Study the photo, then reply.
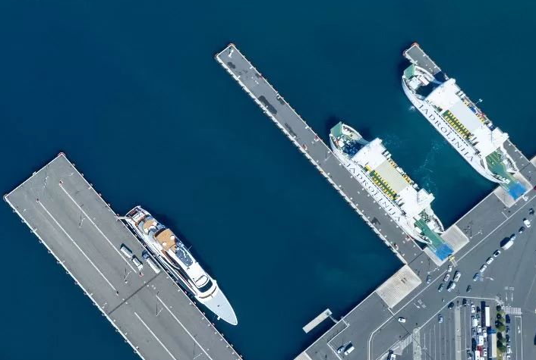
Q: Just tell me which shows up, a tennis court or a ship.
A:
ship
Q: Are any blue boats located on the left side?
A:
No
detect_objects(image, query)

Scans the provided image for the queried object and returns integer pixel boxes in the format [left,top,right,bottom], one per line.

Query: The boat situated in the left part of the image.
[125,204,234,323]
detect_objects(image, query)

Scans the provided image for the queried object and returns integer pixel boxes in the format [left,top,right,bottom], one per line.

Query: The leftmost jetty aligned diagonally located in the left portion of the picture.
[4,150,244,360]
